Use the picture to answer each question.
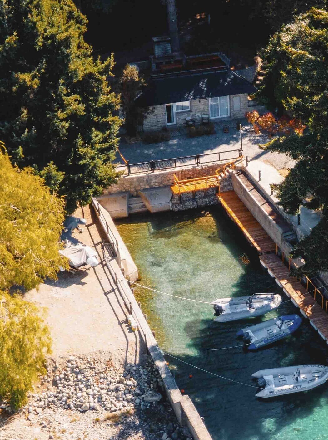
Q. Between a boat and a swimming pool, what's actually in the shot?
boat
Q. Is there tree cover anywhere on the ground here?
Yes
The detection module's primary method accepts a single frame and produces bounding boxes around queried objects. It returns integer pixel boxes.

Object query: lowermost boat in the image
[247,364,328,400]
